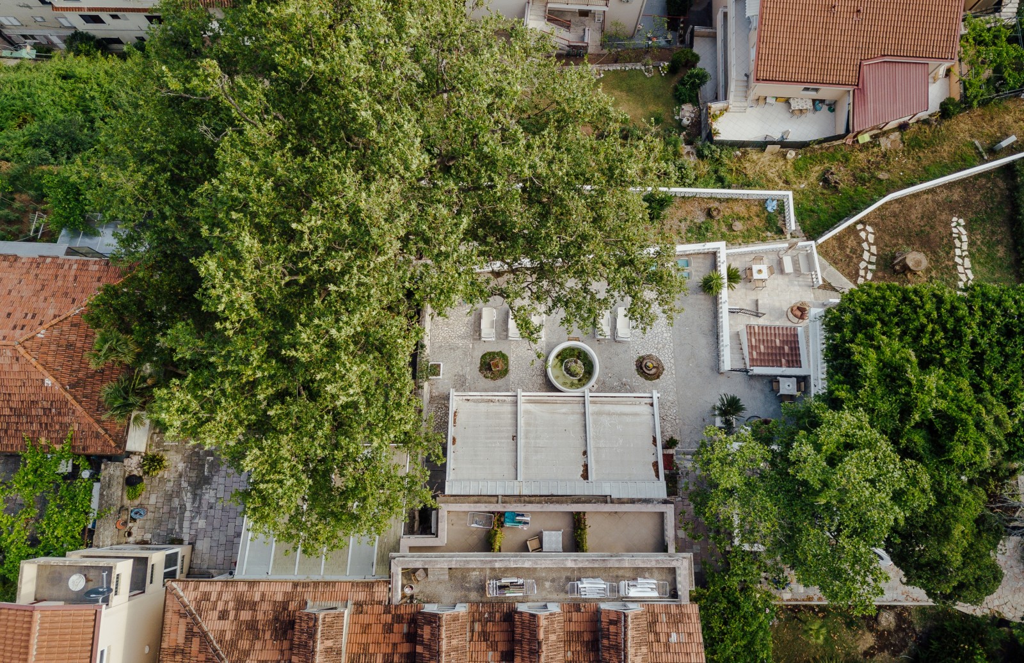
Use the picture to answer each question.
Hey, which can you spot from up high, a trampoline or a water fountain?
water fountain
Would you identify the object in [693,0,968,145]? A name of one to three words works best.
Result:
house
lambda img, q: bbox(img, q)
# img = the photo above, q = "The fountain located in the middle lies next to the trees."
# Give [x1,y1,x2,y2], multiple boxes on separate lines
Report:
[548,339,601,392]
